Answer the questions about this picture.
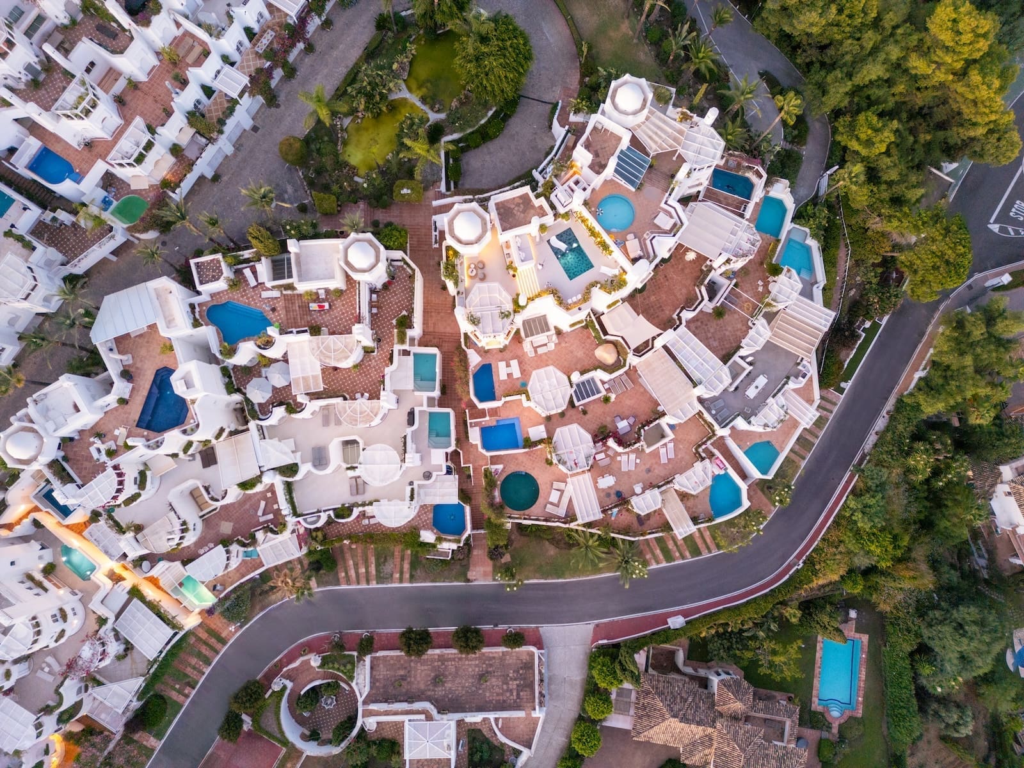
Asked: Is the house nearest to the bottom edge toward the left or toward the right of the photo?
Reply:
right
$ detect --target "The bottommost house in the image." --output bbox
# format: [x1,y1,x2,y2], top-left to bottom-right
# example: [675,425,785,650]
[629,659,808,768]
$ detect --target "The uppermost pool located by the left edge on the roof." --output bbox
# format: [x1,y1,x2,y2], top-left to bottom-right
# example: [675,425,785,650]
[26,148,86,187]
